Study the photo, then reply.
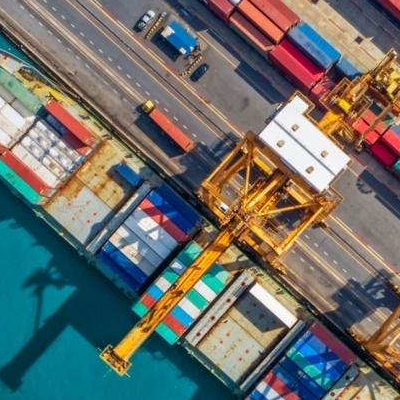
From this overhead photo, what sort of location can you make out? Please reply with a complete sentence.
This image shows a port.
